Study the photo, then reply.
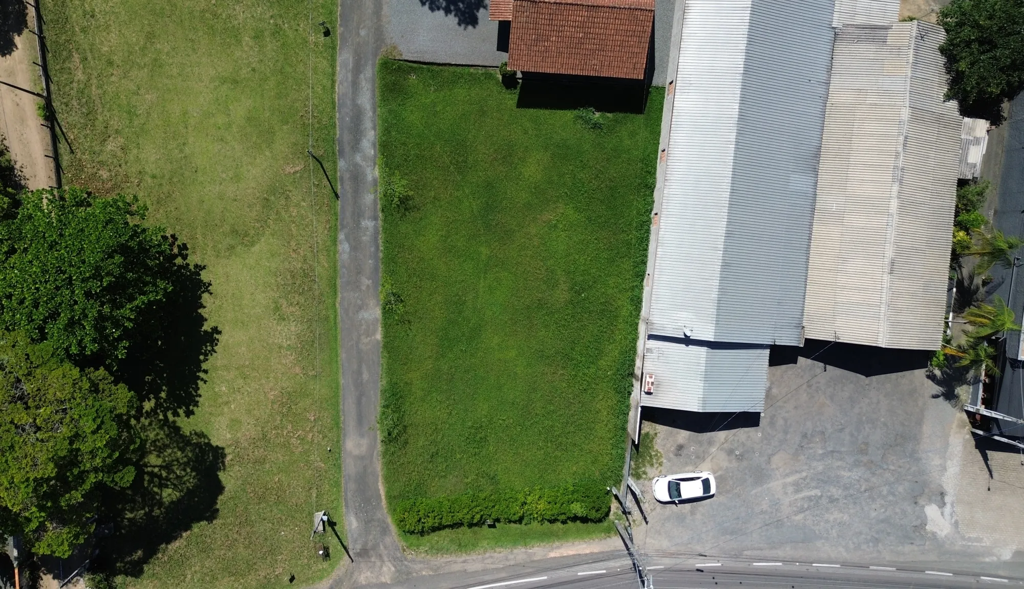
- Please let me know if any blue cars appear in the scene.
No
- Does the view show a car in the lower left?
No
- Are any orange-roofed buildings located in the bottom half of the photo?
No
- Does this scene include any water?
No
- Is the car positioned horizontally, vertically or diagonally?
horizontally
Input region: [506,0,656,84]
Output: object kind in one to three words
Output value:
house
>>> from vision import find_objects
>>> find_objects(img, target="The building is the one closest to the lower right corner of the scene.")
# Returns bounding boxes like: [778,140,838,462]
[970,358,1024,437]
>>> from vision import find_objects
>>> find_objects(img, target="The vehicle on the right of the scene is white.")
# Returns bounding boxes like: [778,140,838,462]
[652,471,716,504]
